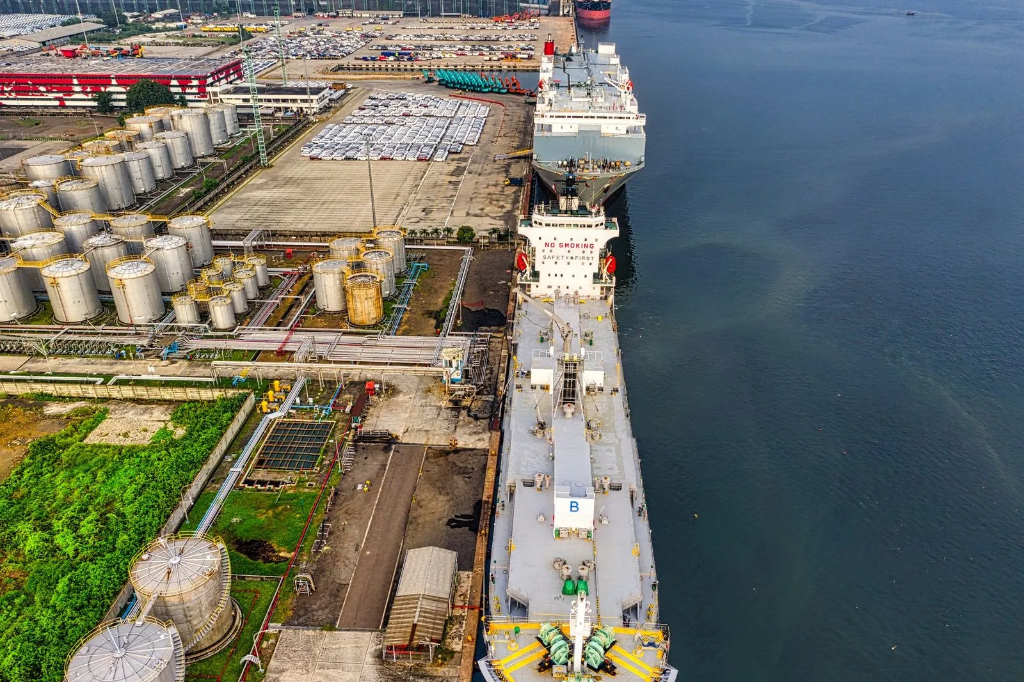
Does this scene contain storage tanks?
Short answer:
Yes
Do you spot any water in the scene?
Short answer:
Yes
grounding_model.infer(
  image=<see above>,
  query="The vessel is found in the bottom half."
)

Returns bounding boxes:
[482,152,678,682]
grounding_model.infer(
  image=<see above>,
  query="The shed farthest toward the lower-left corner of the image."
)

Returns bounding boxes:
[377,549,460,664]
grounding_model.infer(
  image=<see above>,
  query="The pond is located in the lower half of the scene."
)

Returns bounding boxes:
[247,416,339,475]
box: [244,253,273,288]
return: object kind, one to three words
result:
storage tank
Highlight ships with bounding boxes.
[534,30,647,203]
[482,152,678,682]
[575,0,611,18]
